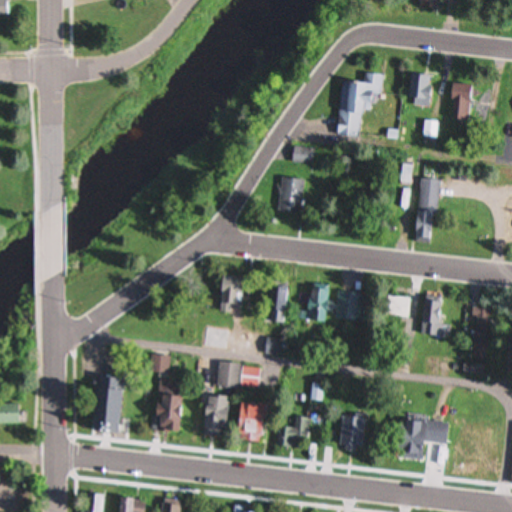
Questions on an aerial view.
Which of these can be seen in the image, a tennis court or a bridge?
bridge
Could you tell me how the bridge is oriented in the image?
vertically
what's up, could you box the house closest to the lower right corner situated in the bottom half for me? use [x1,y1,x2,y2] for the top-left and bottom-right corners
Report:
[399,412,449,462]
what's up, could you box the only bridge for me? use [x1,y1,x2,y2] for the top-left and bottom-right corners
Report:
[34,196,66,282]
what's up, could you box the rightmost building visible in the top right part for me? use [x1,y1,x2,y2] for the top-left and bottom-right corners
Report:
[452,82,474,120]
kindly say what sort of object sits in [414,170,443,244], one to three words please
house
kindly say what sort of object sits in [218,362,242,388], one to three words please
building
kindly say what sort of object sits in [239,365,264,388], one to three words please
shed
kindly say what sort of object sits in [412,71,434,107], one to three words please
house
